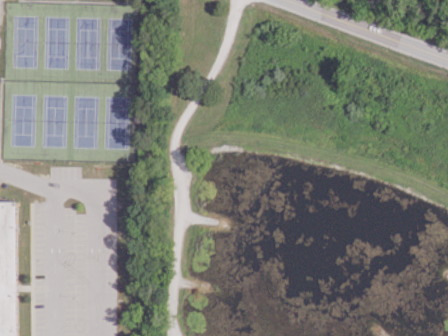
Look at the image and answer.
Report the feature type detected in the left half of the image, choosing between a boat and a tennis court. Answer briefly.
tennis court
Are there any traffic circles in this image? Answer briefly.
No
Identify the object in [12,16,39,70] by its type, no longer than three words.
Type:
tennis court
